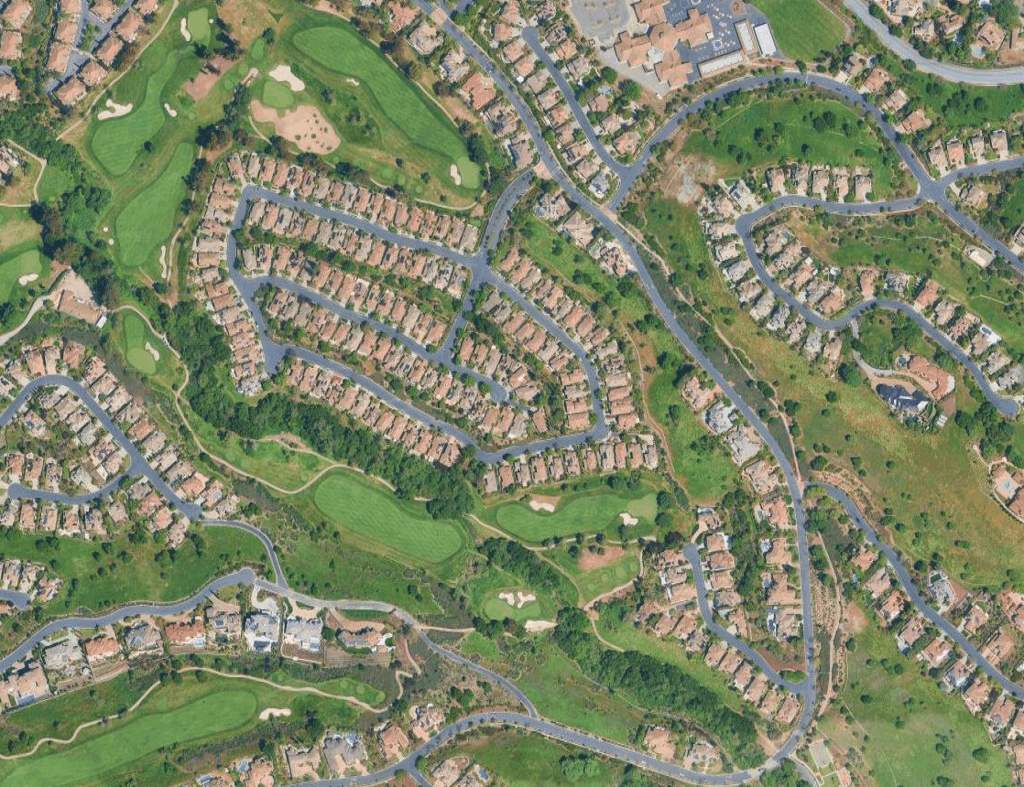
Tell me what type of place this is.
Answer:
residential area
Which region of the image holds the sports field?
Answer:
top right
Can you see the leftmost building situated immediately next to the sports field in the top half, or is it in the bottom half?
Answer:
top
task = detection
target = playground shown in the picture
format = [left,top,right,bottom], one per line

[660,0,789,87]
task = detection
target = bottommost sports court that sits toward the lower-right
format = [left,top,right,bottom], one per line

[807,740,833,768]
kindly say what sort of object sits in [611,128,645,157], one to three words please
house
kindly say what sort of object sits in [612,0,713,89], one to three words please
building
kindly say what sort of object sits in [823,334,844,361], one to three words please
house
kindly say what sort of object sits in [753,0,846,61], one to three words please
sports field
